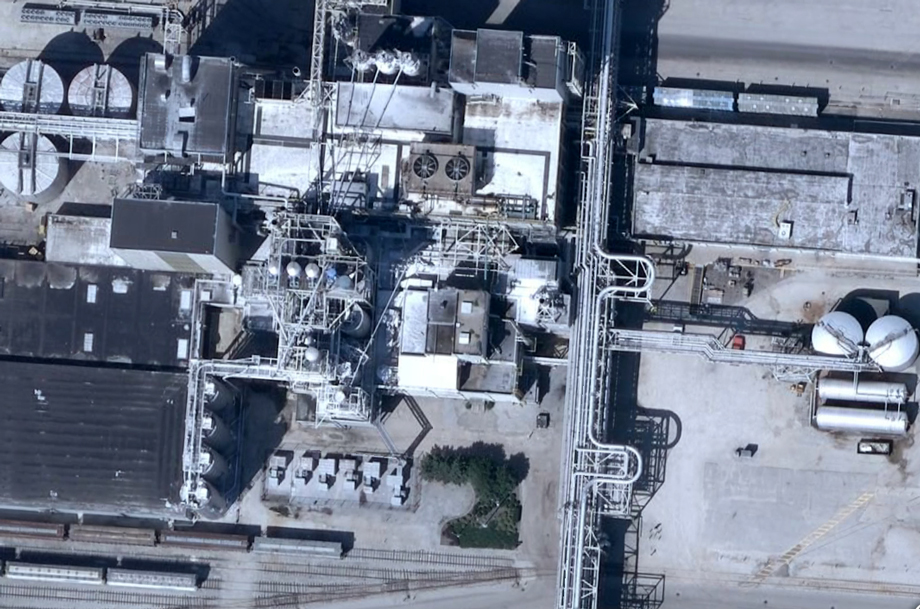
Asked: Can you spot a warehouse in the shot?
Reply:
Yes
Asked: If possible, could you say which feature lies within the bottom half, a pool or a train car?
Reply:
train car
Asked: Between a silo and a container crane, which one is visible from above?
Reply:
silo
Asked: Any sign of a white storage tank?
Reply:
Yes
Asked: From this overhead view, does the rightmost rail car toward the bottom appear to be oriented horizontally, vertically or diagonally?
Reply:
horizontally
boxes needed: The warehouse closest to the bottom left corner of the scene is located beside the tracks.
[0,365,188,524]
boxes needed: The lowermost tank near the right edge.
[816,393,909,435]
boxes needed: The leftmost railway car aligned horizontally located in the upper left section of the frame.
[21,7,80,27]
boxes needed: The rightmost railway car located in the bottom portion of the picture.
[253,536,345,559]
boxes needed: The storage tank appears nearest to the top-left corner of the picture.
[1,54,72,113]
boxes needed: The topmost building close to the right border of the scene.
[633,118,920,272]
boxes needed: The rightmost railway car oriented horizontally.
[737,94,821,117]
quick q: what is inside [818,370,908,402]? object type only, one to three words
storage tank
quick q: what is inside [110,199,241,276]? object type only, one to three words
building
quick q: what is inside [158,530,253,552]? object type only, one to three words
rail car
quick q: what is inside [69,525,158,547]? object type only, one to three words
rail car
